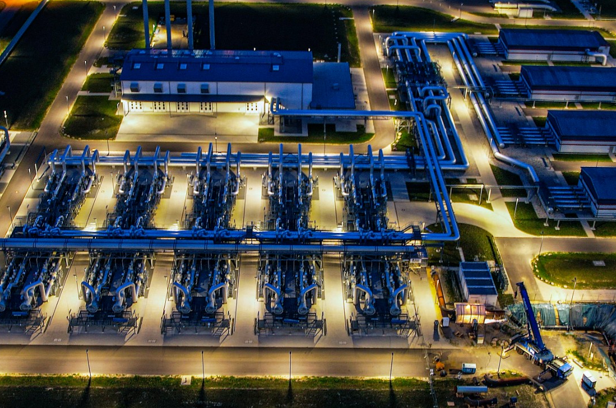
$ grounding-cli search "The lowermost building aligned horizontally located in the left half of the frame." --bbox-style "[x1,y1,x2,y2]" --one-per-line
[118,49,313,116]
